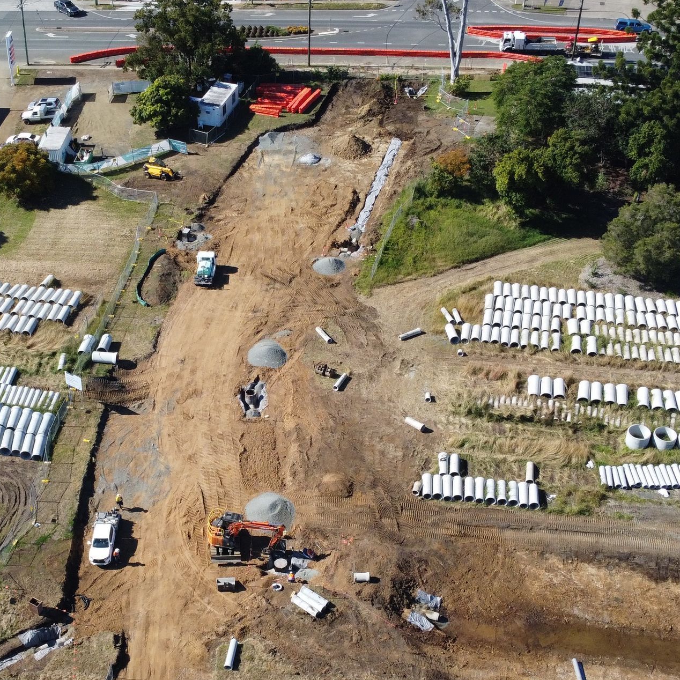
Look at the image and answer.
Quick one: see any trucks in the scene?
Yes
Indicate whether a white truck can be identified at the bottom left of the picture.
Yes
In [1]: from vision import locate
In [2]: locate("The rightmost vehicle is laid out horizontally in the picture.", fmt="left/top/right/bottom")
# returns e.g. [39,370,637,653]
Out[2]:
[616,15,653,34]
